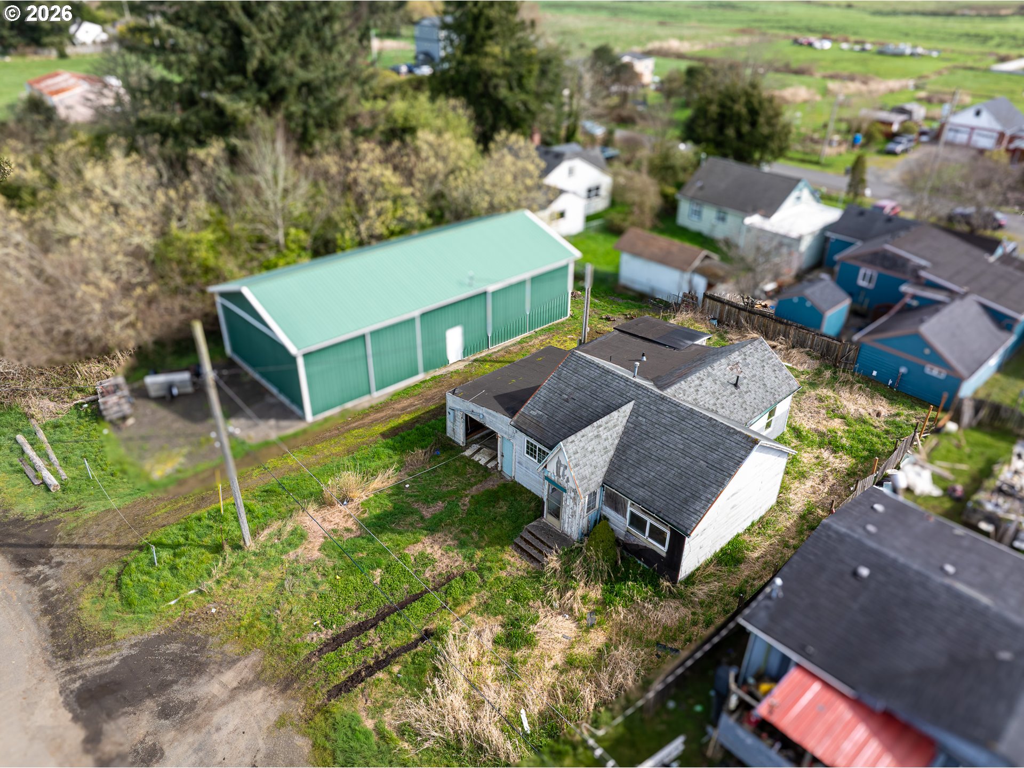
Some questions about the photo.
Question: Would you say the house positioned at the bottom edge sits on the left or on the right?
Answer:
right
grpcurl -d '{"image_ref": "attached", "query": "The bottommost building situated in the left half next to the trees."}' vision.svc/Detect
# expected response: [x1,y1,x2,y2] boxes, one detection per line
[205,207,582,423]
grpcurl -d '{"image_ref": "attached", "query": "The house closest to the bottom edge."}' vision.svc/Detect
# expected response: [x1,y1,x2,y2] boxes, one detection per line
[698,488,1024,768]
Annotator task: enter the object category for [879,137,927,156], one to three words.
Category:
vehicle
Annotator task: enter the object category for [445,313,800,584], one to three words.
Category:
house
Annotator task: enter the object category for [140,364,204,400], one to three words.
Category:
trailer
